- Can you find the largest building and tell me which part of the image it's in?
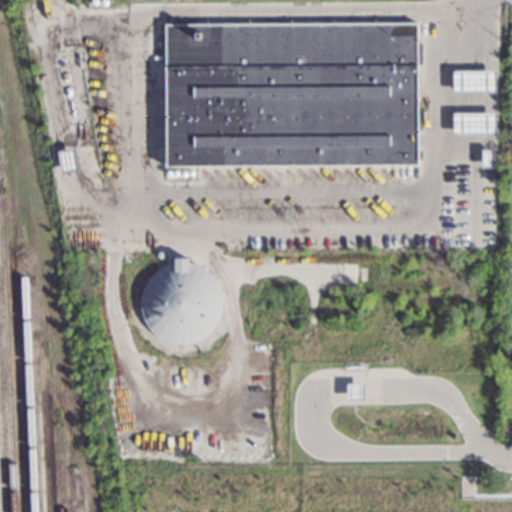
top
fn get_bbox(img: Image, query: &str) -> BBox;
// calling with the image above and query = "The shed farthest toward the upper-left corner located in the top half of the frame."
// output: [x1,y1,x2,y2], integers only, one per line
[59,151,76,174]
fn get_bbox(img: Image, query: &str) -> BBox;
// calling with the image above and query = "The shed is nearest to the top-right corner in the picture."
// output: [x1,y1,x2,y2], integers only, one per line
[453,70,497,94]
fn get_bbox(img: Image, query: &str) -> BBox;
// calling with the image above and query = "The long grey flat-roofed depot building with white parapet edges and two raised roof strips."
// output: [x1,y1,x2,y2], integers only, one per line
[165,22,418,166]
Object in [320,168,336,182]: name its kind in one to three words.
vehicle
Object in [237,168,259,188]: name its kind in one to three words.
vehicle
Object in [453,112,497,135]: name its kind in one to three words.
shed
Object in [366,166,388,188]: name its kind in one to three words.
truck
